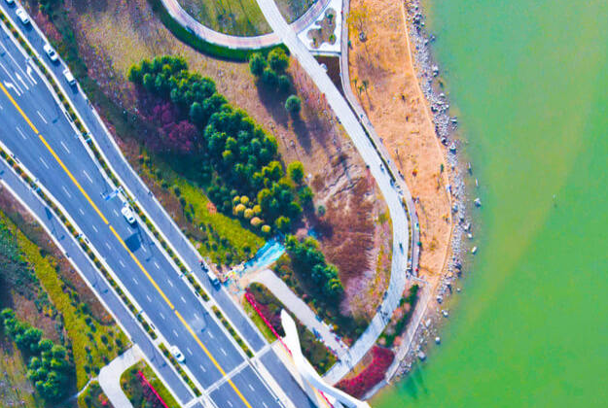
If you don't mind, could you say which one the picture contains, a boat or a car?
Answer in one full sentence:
It is a car that can be seen here.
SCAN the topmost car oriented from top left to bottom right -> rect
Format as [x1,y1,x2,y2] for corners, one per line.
[14,8,29,25]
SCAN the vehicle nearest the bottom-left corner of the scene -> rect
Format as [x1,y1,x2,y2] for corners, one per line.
[169,344,184,362]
